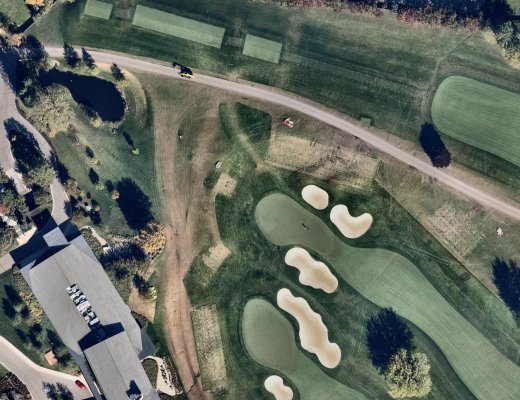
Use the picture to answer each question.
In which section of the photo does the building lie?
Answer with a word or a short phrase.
bottom left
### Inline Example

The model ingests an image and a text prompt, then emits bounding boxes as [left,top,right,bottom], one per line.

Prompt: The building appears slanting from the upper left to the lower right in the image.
[20,227,162,400]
